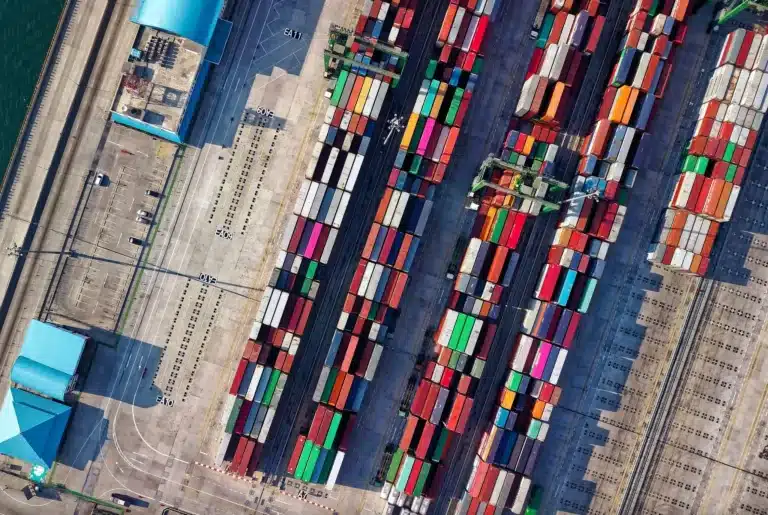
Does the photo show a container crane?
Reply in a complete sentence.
Yes, there is a container crane in the image.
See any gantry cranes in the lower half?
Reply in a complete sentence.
No, in the lower half there is no gantry crane.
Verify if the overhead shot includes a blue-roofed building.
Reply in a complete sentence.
Yes, I can see a blue-roofed building in this picture.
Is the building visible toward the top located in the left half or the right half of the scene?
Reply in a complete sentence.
You can find the building visible toward the top on the left side of the picture.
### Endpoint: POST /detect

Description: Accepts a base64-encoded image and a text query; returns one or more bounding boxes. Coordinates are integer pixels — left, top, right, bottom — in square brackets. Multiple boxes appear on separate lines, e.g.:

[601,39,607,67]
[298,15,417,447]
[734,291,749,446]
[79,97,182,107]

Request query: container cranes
[322,25,412,97]
[465,153,568,214]
[708,0,768,28]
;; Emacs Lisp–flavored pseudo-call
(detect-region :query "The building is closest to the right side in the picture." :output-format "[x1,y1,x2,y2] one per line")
[109,0,243,142]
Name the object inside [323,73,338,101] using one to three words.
vehicle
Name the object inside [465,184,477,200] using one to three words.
vehicle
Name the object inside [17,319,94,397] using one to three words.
building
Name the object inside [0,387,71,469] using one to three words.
building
